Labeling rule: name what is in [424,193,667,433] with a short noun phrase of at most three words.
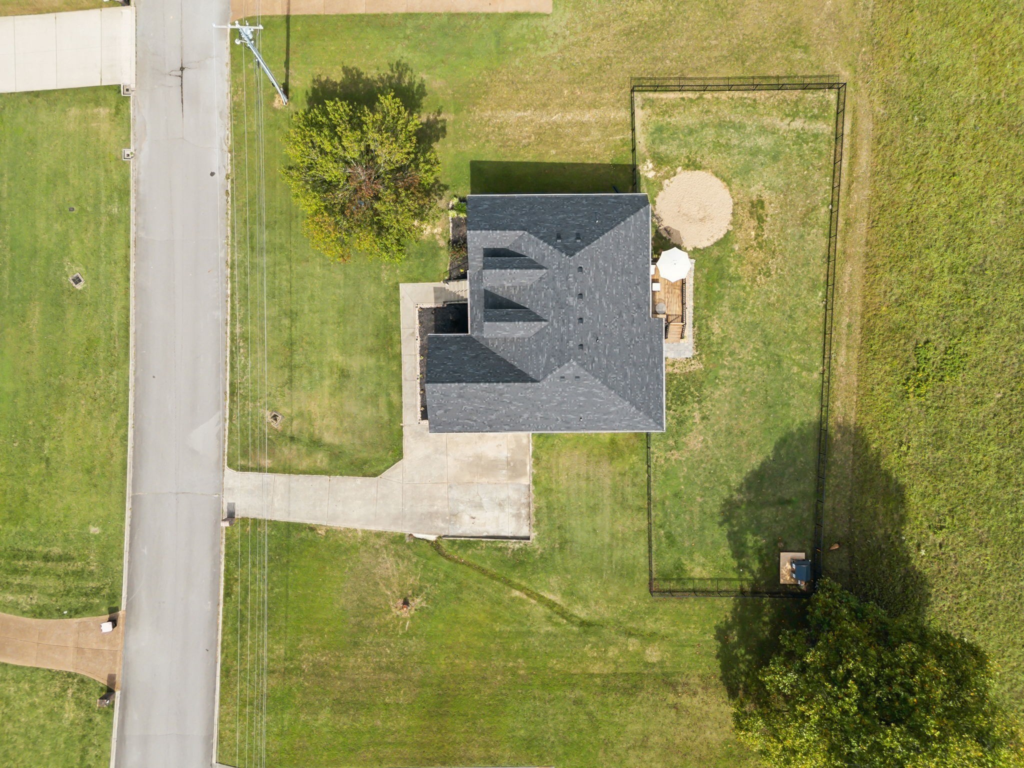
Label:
house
